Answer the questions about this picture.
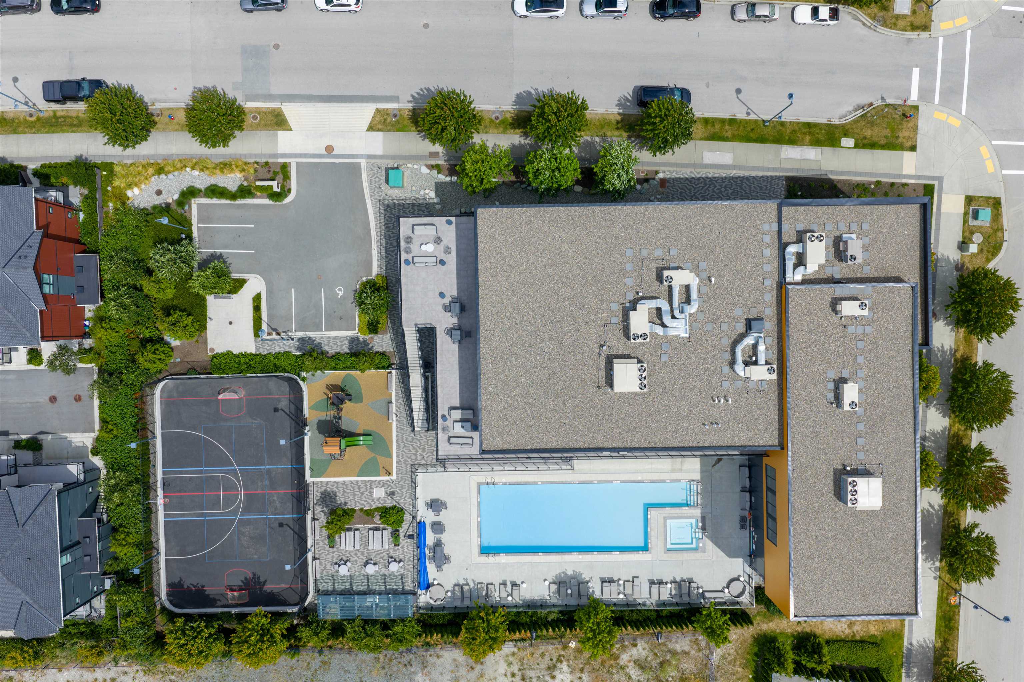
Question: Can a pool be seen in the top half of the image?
No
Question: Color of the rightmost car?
white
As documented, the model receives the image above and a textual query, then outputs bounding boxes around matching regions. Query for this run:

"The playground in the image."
[306,370,395,482]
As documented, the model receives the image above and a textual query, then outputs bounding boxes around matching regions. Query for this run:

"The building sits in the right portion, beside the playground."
[397,197,933,621]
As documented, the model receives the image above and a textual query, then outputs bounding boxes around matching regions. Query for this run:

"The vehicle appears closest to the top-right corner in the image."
[792,3,839,29]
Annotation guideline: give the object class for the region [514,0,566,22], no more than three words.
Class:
car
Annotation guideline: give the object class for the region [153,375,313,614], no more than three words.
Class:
sports court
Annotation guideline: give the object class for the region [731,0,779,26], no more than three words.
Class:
car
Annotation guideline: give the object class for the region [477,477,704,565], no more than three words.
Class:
swimming pool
